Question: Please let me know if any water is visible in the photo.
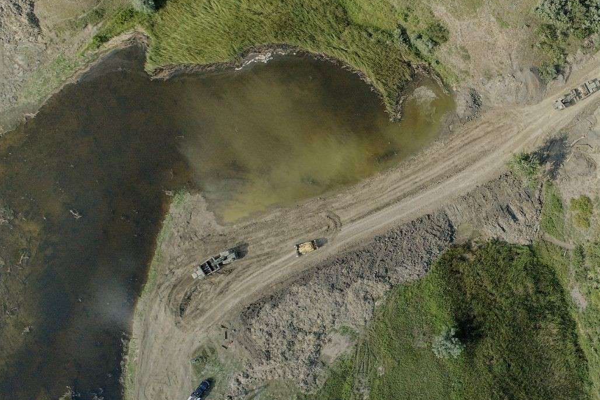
Yes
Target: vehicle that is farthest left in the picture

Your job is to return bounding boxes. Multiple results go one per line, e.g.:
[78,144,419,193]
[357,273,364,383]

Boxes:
[187,381,209,400]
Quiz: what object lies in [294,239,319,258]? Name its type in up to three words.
work vehicle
